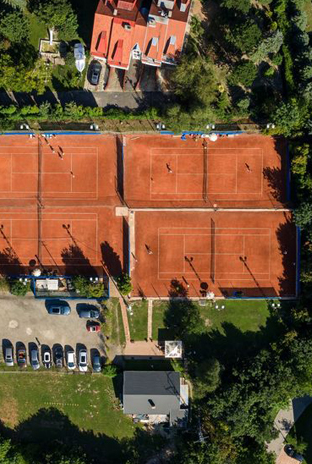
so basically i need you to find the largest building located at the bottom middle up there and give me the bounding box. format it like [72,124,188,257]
[124,369,188,427]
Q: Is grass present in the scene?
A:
Yes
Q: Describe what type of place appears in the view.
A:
sports ground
